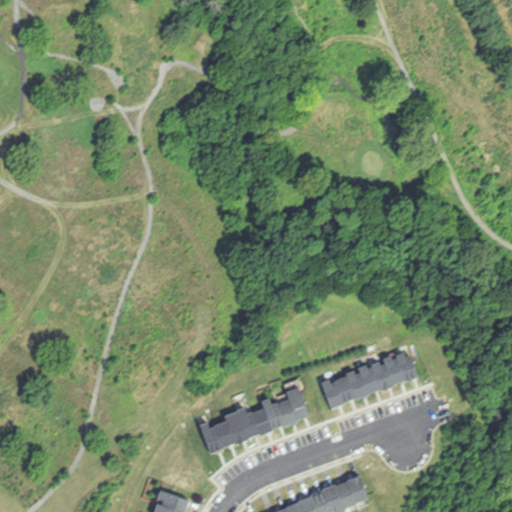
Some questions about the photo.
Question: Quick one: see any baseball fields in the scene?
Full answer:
No, I find no baseball field anywhere in the image.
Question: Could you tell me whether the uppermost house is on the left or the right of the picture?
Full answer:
The uppermost house appears in the right half of the scene.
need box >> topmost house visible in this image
[322,352,418,410]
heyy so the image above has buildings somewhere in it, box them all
[322,352,418,410]
[270,477,368,512]
[153,492,188,512]
[199,389,308,454]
